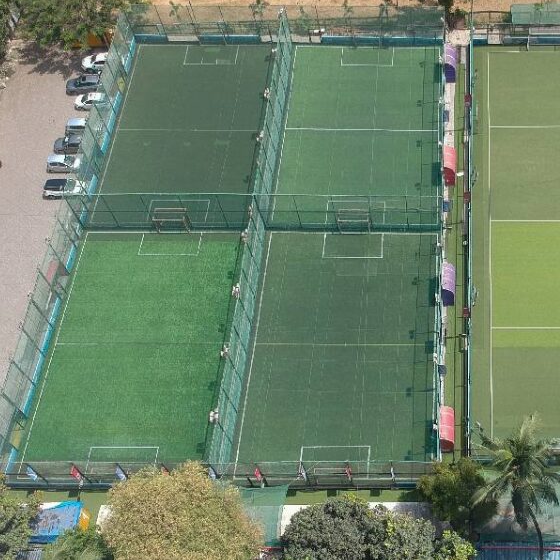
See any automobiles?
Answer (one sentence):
Yes, I can see an automobile in this picture.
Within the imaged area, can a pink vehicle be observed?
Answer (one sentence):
No, the scene contains no pink vehicle.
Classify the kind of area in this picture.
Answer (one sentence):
It's a sports ground.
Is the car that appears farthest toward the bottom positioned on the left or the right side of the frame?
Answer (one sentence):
You can find the car that appears farthest toward the bottom on the left side of the picture.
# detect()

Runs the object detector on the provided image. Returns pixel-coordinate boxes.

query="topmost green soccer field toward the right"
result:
[266,41,442,230]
